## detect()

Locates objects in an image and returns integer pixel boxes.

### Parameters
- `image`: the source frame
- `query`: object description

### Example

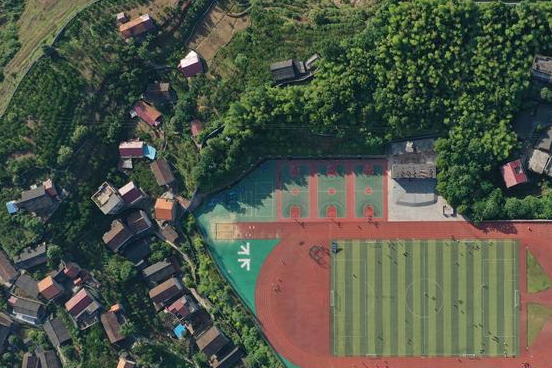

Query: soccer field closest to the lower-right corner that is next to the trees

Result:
[332,241,520,357]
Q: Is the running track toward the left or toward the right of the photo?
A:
right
